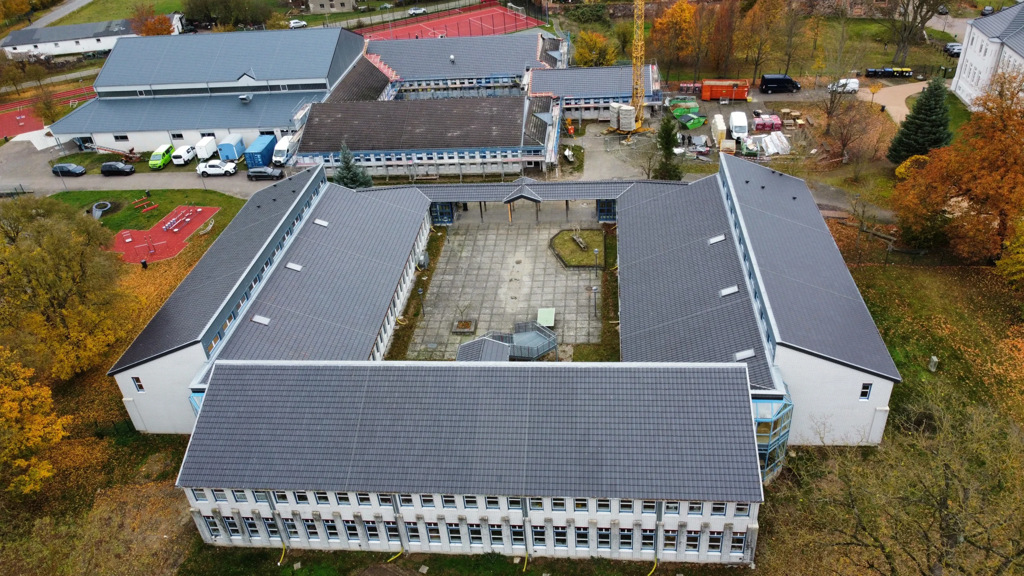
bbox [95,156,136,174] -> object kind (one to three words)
car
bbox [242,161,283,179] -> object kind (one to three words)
car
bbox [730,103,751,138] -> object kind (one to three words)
vehicle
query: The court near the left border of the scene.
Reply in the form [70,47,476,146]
[0,106,43,140]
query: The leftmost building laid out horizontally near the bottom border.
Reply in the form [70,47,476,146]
[174,359,767,568]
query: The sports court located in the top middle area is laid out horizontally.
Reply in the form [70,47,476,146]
[362,5,547,44]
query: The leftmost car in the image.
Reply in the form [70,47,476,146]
[46,159,87,175]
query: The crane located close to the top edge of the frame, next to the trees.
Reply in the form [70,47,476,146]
[608,0,668,141]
